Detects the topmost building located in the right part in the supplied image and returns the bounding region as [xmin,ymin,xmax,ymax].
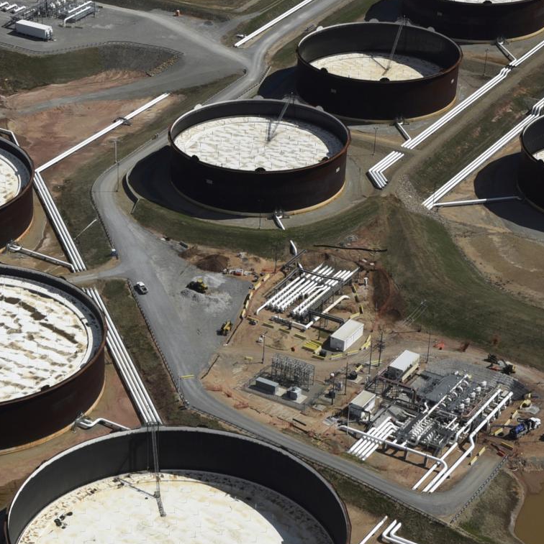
[330,319,364,350]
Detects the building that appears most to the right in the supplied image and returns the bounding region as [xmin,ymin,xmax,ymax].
[389,350,420,380]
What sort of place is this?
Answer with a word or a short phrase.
industrial area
